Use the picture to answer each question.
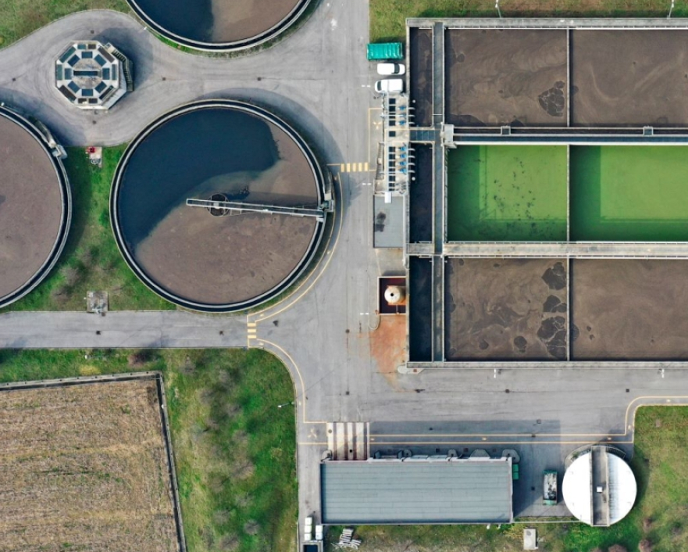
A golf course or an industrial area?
industrial area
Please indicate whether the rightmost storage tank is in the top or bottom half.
bottom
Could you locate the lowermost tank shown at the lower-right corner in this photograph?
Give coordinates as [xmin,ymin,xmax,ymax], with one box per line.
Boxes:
[561,442,637,528]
